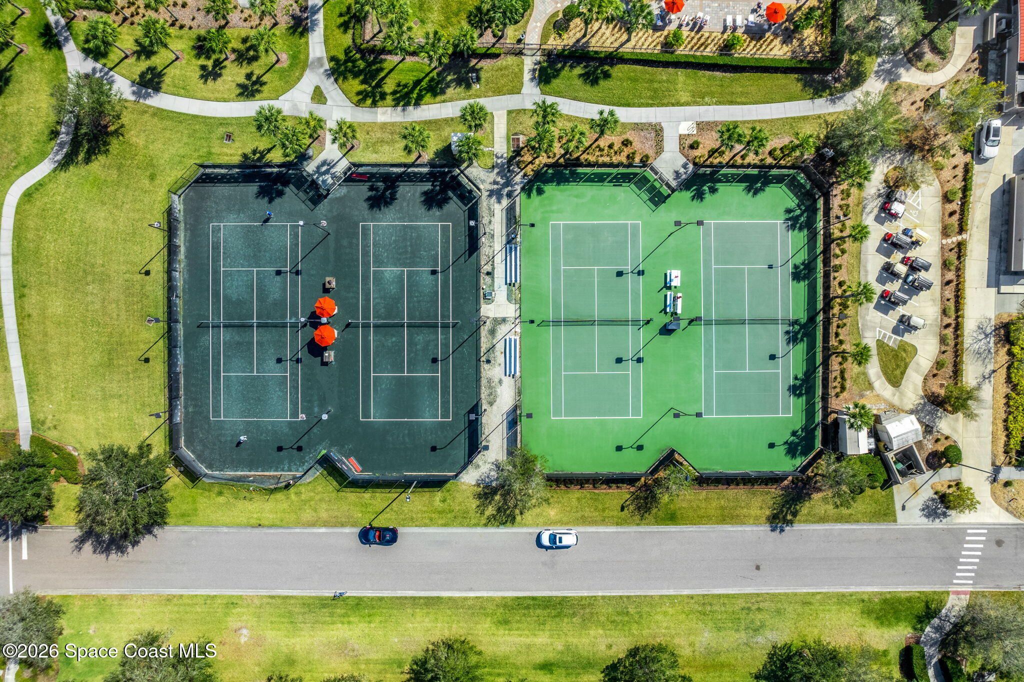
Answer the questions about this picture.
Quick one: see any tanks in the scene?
No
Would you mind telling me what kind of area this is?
sports ground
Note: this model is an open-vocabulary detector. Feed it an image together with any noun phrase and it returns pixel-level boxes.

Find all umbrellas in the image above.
[765,2,786,24]
[314,325,336,347]
[664,0,684,15]
[315,297,336,318]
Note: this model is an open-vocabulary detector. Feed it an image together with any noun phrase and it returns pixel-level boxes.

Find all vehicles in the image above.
[905,274,934,292]
[881,288,910,306]
[904,228,933,246]
[882,260,910,278]
[974,117,1000,159]
[898,313,926,329]
[879,200,908,218]
[359,528,396,548]
[903,256,932,273]
[884,233,912,250]
[540,531,578,551]
[882,187,911,204]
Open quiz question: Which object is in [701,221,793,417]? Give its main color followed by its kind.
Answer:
green tennis court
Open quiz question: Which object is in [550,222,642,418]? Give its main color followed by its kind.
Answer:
green tennis court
